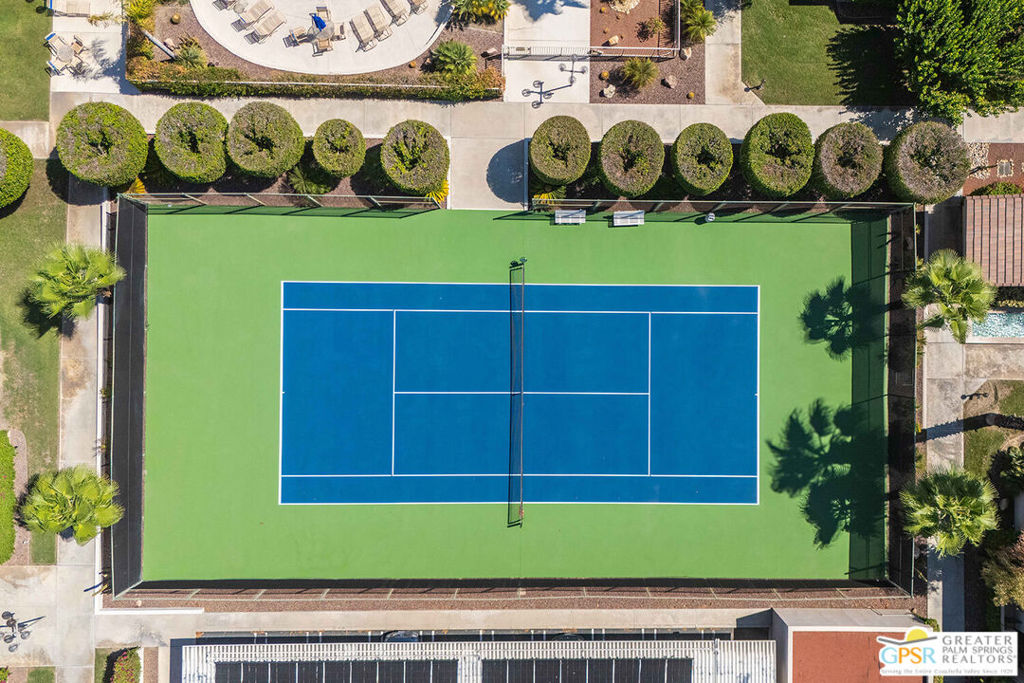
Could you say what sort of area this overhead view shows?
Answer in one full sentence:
It's a sports ground.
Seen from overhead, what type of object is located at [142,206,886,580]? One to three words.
tennis court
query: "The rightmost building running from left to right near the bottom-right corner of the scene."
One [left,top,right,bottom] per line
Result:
[772,606,932,683]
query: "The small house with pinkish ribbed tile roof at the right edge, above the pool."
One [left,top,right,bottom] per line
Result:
[941,195,1024,287]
